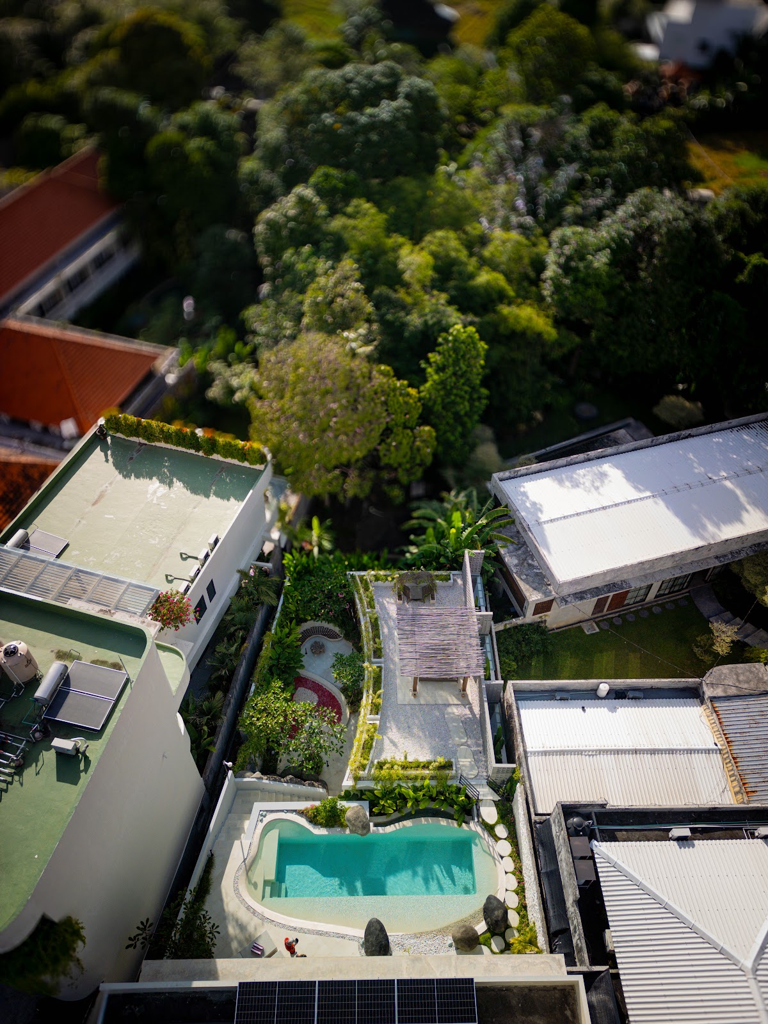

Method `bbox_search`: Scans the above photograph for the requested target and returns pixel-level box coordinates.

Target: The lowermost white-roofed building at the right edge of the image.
[587,841,768,1024]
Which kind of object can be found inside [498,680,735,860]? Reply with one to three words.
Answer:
house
